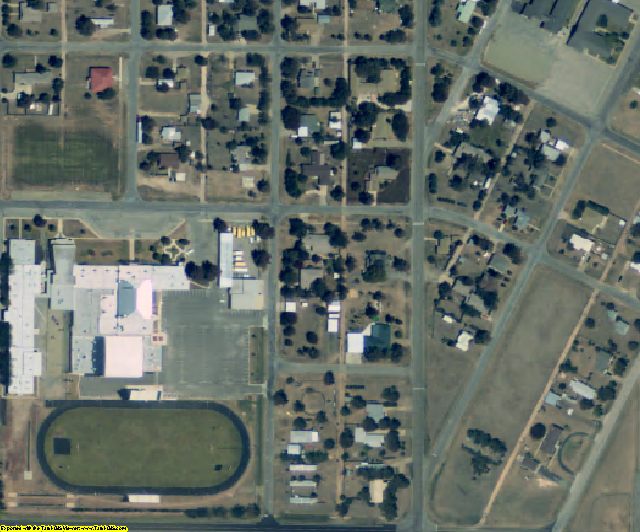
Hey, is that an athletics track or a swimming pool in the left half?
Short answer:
athletics track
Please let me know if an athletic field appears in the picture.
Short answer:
Yes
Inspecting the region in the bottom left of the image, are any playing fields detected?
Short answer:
Yes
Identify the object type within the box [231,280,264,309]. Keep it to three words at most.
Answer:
building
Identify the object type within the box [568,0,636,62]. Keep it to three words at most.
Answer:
building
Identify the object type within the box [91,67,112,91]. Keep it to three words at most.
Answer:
house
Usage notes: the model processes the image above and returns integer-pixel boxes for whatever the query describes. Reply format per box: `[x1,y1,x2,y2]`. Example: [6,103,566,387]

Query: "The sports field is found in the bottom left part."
[45,408,242,486]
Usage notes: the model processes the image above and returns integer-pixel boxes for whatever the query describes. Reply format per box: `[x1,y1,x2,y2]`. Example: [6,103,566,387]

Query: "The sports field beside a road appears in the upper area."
[12,124,119,188]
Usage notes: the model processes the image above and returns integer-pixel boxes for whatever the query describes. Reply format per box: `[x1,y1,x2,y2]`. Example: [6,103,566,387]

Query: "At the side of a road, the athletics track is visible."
[38,400,250,494]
